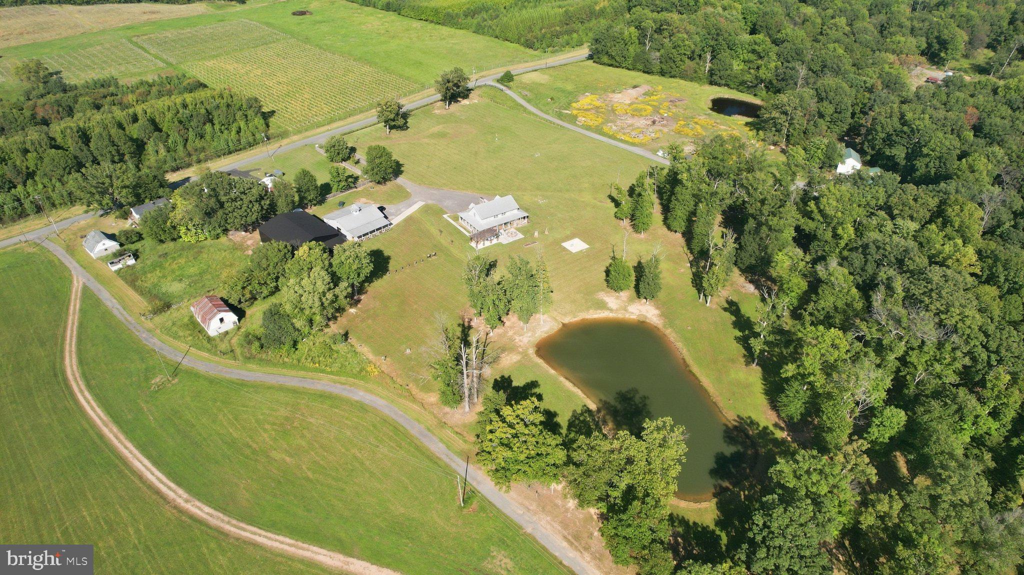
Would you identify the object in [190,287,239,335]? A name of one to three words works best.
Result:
barn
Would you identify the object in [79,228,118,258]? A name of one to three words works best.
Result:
barn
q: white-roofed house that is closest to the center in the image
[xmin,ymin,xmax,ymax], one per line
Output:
[458,193,529,234]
